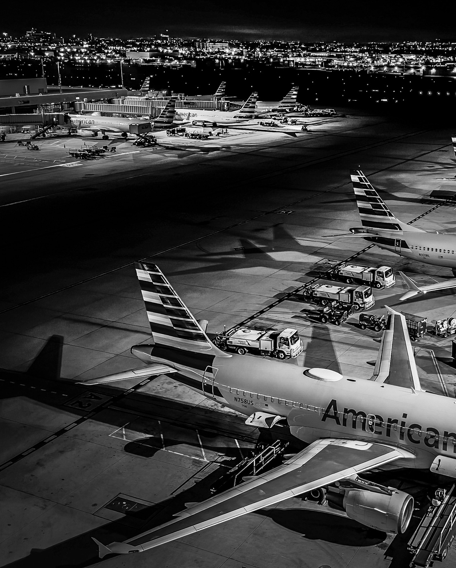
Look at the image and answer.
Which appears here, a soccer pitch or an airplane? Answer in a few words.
airplane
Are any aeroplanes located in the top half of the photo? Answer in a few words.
Yes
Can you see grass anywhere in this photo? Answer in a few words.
No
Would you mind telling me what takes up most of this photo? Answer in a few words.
paved ground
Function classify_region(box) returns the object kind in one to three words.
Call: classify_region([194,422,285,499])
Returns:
work vehicle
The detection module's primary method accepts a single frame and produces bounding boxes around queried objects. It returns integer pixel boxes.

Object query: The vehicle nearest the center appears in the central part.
[222,314,301,359]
